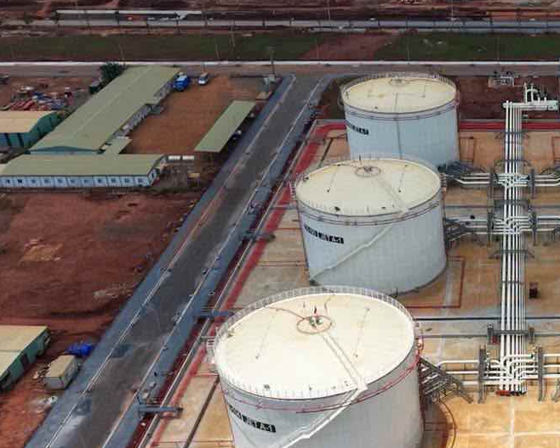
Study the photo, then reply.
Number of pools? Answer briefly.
0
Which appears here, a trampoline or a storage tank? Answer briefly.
storage tank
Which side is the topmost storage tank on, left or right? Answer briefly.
right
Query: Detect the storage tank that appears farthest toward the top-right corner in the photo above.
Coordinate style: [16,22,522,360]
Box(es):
[337,74,462,177]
